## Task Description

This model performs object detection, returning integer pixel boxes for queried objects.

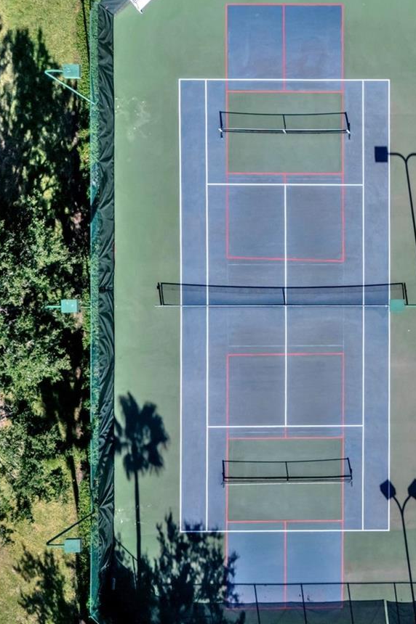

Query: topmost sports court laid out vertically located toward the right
[226,3,343,262]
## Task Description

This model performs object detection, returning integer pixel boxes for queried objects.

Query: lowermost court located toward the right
[226,354,343,609]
